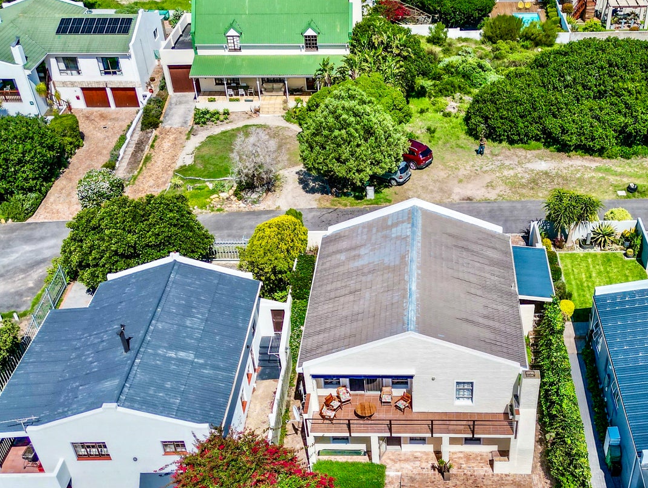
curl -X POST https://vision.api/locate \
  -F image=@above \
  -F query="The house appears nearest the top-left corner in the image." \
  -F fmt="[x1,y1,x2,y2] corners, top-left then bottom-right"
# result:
[0,0,159,115]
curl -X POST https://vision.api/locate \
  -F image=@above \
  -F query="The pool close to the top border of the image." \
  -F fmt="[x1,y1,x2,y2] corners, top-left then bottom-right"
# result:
[511,10,540,23]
